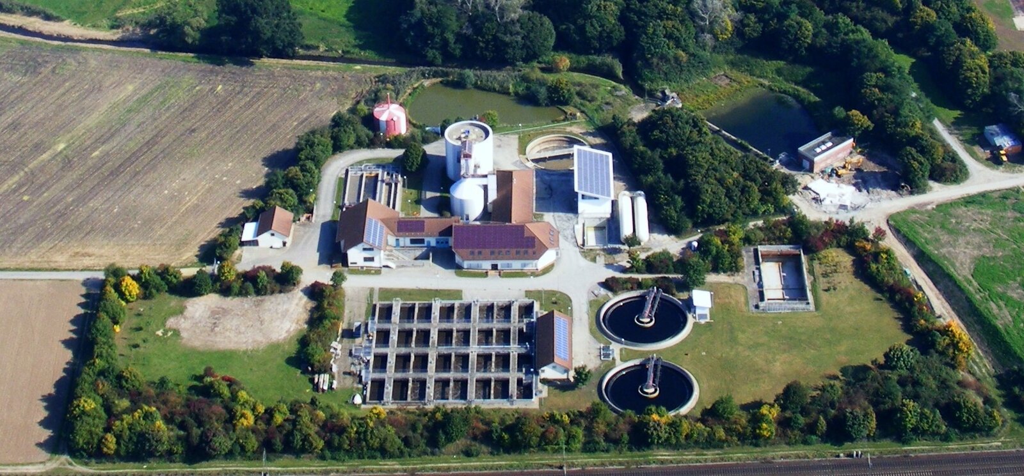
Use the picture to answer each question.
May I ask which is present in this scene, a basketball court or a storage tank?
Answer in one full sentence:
The image shows a storage tank.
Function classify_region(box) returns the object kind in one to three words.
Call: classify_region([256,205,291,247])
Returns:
building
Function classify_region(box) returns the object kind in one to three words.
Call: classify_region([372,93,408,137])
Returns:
storage tank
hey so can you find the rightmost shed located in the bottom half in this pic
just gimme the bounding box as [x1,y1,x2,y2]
[691,291,716,323]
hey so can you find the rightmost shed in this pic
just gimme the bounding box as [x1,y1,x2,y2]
[983,122,1024,158]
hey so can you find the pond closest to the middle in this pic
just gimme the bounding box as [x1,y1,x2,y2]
[410,86,566,128]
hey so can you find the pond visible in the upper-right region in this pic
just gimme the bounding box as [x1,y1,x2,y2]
[703,92,822,160]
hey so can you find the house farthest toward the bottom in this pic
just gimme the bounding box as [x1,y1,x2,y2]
[537,310,572,379]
